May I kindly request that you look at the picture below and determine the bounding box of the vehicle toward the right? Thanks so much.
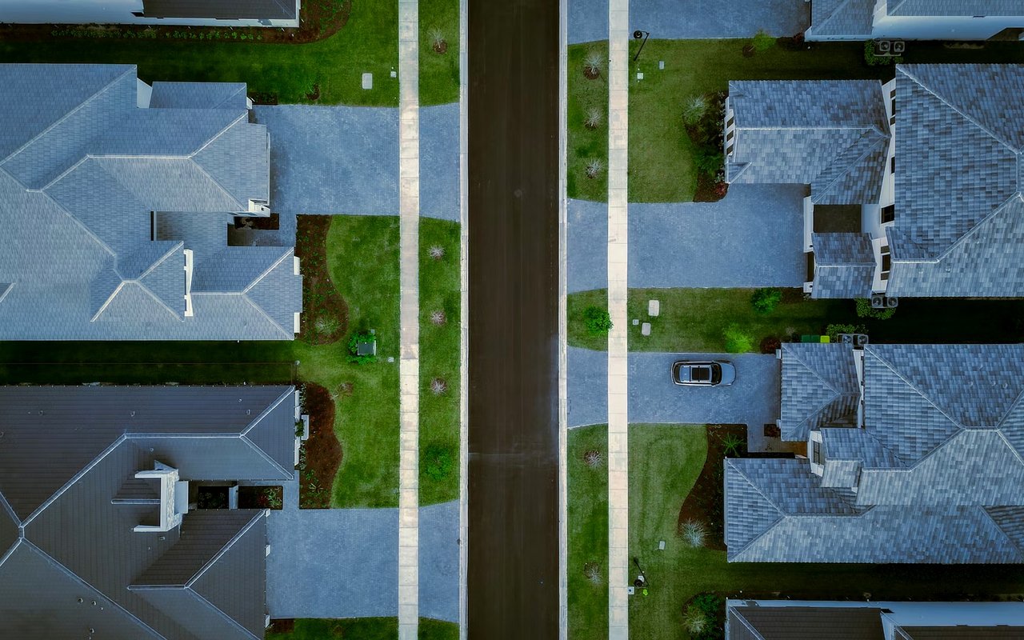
[673,360,737,388]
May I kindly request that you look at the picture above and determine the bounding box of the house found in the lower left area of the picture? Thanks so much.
[0,384,299,640]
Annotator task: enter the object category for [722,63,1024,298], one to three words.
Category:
house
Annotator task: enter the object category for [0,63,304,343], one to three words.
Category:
house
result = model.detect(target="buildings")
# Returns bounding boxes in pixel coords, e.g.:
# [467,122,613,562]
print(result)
[724,343,1024,563]
[0,384,299,640]
[805,0,1024,40]
[0,0,301,26]
[0,63,304,343]
[722,63,1024,298]
[725,600,1024,640]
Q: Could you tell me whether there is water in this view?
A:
No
